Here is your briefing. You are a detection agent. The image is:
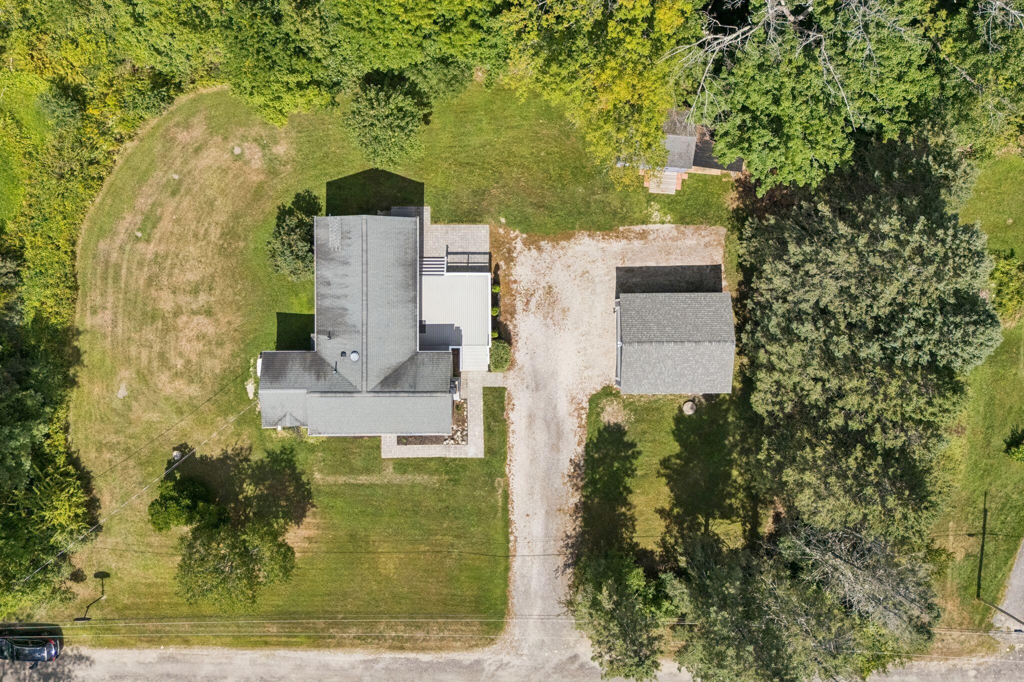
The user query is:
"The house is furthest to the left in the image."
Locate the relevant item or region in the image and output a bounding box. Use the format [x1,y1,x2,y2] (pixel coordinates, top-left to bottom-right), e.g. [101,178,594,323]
[257,214,460,437]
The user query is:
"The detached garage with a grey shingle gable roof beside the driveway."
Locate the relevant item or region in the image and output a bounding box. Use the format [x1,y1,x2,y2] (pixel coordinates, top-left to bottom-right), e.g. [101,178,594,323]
[615,293,736,394]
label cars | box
[0,631,58,666]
